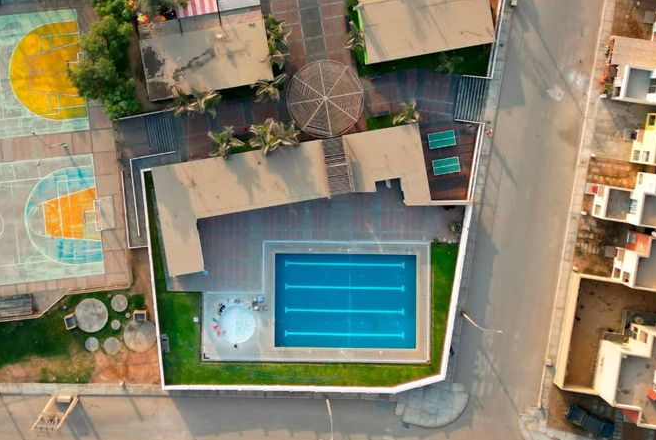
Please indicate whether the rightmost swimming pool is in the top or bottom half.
bottom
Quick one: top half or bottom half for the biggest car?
bottom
